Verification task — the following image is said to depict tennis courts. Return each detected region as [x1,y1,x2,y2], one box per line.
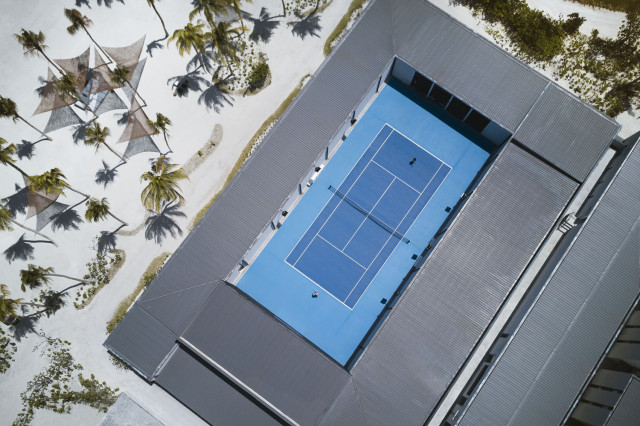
[232,72,502,369]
